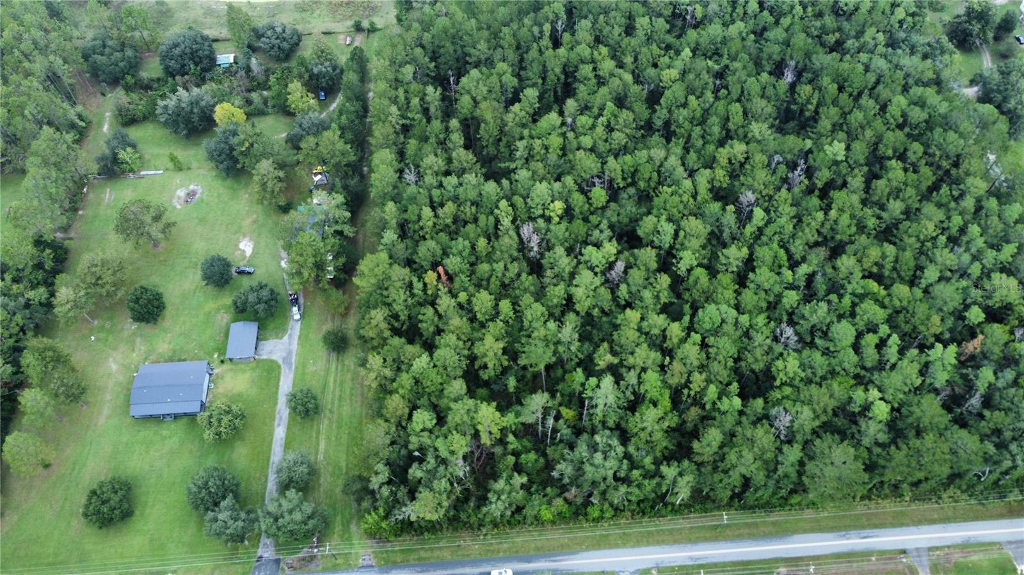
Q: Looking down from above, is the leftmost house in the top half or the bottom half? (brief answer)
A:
bottom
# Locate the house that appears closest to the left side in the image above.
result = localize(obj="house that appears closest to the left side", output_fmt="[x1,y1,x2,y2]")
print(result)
[129,360,224,423]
